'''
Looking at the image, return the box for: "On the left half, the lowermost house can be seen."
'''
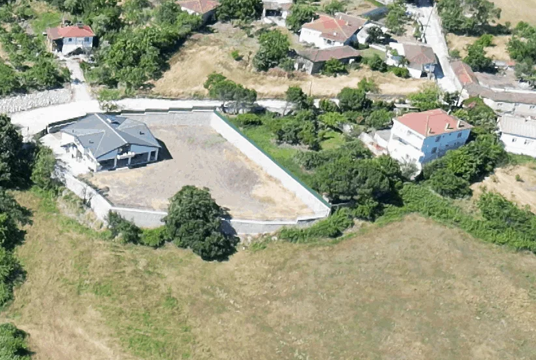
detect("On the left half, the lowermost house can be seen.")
[55,113,165,174]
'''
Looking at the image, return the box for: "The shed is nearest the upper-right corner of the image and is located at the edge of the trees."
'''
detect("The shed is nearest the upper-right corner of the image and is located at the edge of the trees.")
[490,50,523,73]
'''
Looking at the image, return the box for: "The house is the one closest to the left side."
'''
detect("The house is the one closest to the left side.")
[46,16,99,56]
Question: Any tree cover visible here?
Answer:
Yes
